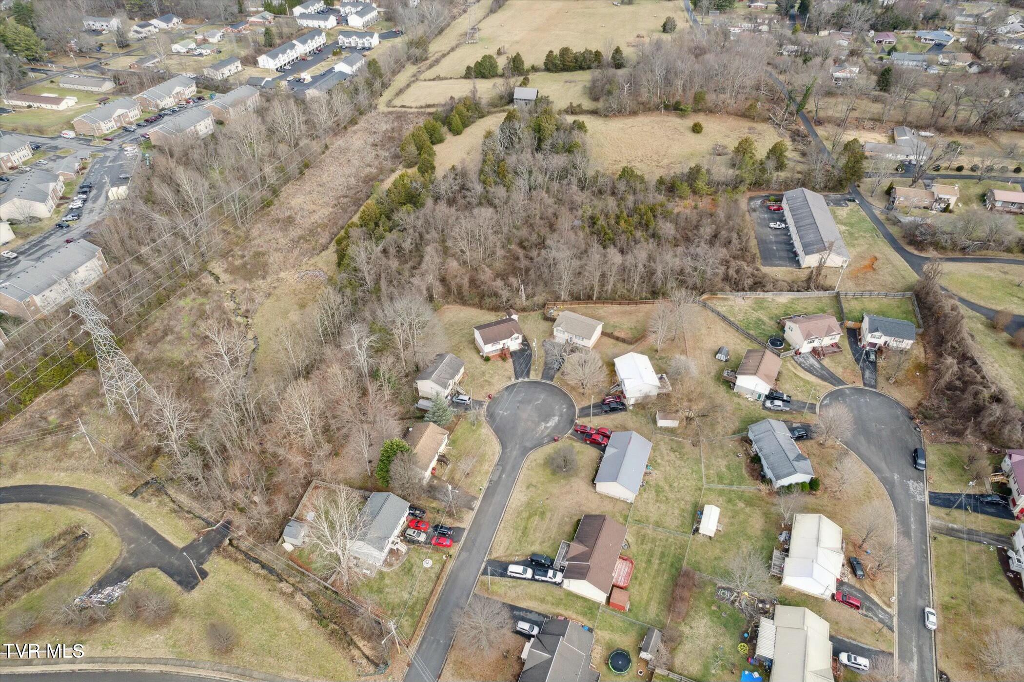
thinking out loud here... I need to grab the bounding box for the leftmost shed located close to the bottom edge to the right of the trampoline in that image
[641,627,663,662]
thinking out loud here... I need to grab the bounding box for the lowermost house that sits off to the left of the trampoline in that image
[510,616,594,682]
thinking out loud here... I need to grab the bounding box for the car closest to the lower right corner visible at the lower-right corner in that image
[924,605,938,631]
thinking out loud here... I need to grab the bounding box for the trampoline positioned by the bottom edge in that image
[607,645,633,675]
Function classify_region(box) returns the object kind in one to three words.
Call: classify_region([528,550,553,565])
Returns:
car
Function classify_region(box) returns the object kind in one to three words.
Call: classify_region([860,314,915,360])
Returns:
house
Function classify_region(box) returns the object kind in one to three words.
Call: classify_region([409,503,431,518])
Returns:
vehicle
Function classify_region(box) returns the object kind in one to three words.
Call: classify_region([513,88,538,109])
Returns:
barn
